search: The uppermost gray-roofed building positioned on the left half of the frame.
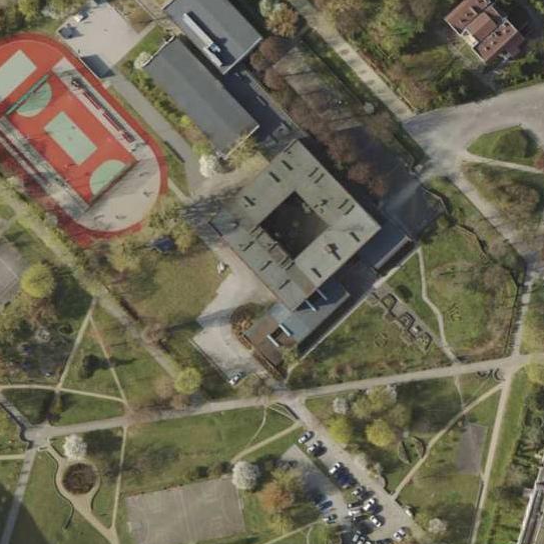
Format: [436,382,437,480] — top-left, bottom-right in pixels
[164,0,262,76]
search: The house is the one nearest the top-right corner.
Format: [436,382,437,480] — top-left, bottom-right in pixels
[443,0,525,64]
